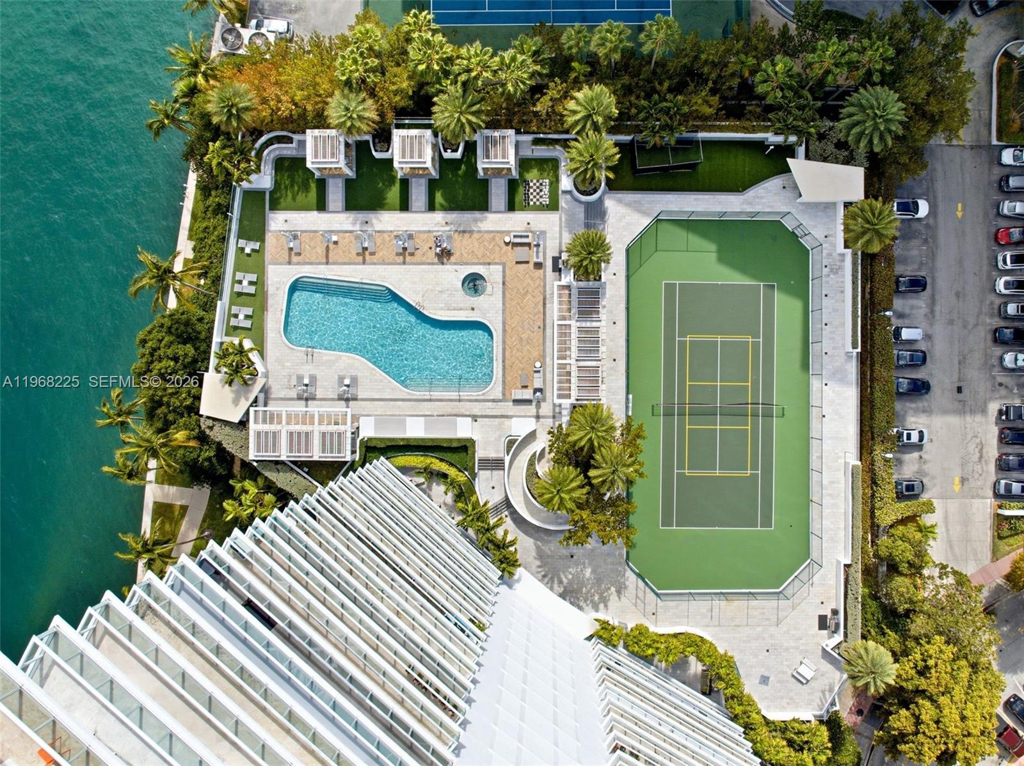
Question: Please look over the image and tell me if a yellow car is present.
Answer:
No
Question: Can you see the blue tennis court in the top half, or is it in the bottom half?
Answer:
top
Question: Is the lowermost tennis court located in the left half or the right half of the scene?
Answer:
right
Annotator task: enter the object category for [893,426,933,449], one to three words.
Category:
car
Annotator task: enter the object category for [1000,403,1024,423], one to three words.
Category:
vehicle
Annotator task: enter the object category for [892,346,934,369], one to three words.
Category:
car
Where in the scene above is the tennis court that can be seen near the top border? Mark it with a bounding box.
[364,0,748,60]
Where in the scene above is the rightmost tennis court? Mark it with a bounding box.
[628,220,810,589]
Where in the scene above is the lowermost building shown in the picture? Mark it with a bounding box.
[0,457,762,766]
